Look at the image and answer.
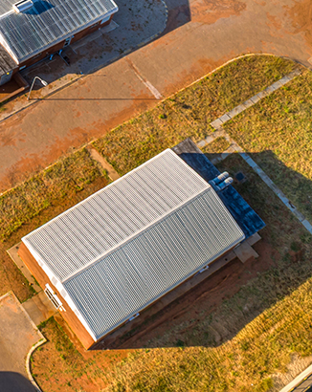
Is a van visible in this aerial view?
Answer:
No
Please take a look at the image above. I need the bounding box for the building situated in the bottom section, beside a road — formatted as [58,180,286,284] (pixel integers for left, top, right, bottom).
[19,138,266,346]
